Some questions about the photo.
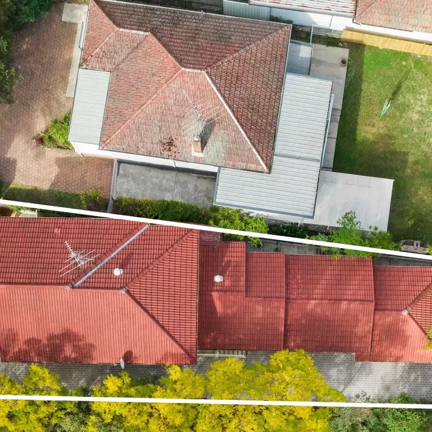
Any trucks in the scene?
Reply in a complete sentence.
No, the photo shows no truck.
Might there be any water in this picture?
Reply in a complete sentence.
No, there's no water in this view.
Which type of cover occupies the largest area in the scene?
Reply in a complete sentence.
The scene is dominated by buildings.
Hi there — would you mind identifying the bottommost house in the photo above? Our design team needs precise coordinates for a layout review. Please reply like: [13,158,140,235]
[0,215,432,366]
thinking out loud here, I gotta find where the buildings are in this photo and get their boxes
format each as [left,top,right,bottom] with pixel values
[67,0,337,223]
[0,215,432,366]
